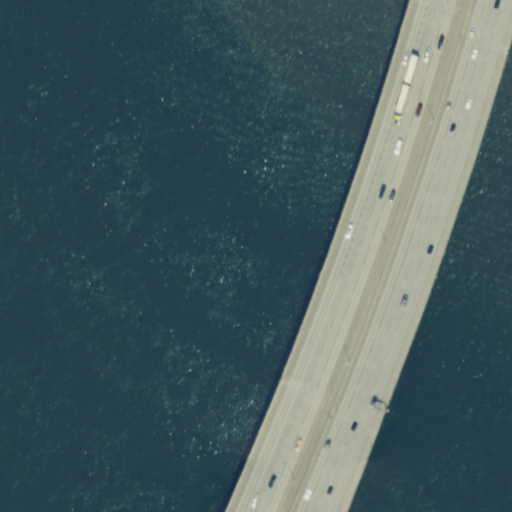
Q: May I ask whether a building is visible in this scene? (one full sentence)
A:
No, the scene contains no building.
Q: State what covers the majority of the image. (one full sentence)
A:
For the most part, this view shows water.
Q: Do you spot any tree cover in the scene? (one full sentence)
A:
No, there is no tree cover in the image.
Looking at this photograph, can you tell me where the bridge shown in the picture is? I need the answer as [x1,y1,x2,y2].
[226,0,512,512]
